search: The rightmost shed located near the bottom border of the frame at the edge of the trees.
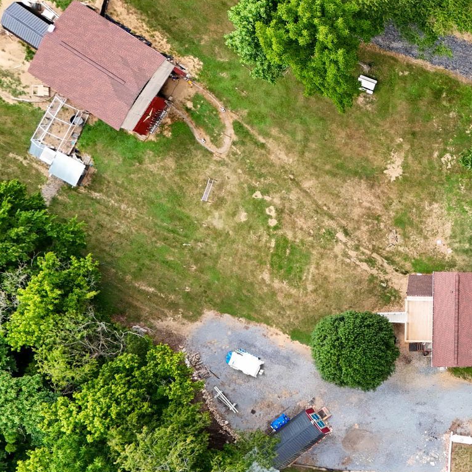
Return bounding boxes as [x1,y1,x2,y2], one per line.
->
[268,405,333,470]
